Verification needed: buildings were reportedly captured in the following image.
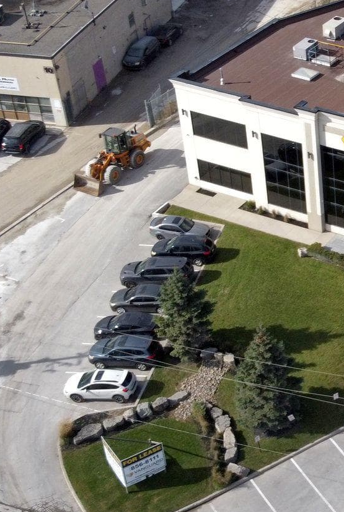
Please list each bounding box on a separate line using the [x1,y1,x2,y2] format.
[0,0,191,127]
[165,0,344,232]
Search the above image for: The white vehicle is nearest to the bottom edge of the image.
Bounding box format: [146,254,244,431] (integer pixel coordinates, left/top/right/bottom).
[59,366,139,403]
